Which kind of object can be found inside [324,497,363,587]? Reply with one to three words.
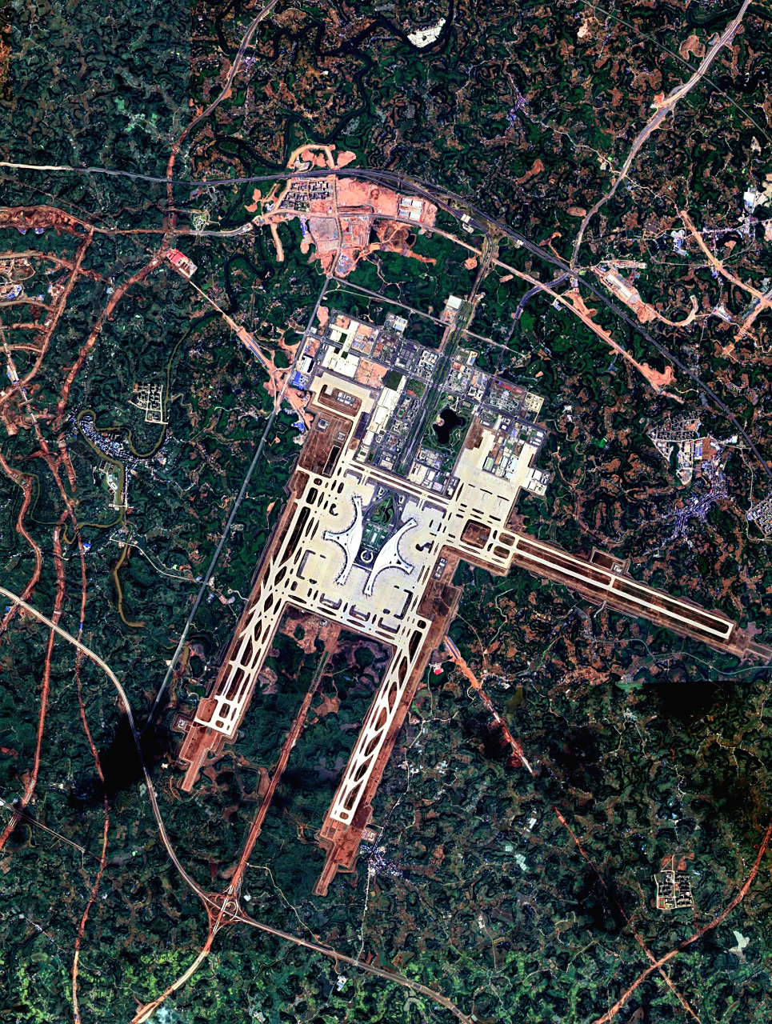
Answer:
building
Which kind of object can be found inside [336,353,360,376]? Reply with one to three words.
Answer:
building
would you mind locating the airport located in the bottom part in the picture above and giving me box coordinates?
[171,373,772,895]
